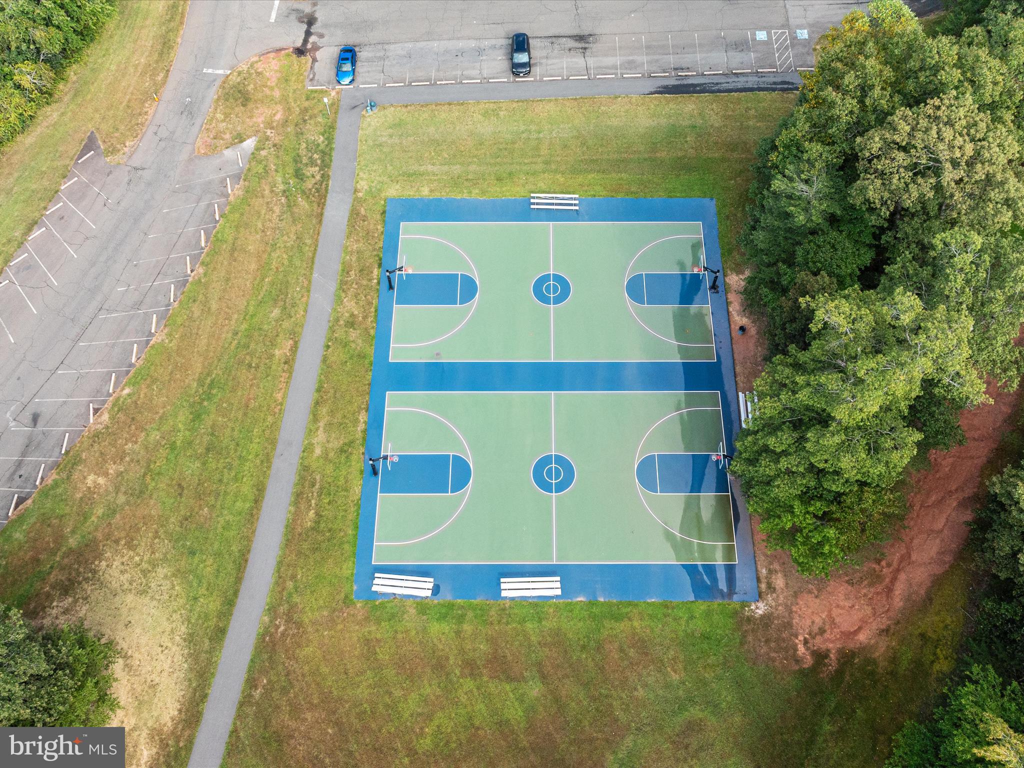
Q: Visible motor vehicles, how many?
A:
2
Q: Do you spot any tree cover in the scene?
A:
Yes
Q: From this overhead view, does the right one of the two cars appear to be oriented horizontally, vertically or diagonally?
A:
vertically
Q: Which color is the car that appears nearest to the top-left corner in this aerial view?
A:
blue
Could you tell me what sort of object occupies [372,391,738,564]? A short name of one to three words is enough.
basketball court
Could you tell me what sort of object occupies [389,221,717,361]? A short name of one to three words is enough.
basketball court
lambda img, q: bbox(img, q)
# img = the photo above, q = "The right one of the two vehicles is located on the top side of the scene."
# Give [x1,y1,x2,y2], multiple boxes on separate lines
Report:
[511,33,531,75]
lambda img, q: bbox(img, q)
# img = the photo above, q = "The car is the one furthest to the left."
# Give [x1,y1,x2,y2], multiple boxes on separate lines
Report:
[336,49,357,84]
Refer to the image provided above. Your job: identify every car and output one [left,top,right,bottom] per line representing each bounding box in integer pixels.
[336,49,357,84]
[511,33,531,75]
